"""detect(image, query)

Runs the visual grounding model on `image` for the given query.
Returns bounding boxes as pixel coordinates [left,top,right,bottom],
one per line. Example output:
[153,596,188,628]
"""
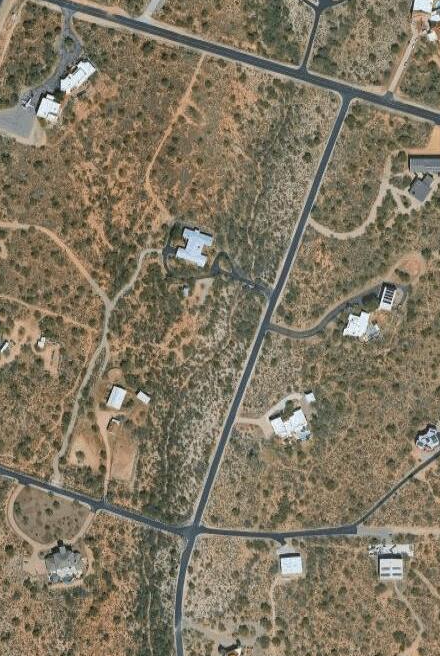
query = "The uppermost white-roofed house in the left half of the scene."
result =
[61,62,96,93]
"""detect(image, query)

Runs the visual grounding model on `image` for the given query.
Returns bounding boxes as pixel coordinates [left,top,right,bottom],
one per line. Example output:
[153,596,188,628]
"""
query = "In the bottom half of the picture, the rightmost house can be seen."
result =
[417,429,440,449]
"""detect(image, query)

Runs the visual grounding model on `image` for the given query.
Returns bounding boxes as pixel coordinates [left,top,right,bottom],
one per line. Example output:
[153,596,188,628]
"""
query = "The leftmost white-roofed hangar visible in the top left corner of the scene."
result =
[37,95,61,123]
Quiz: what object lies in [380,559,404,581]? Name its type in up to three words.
hangar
